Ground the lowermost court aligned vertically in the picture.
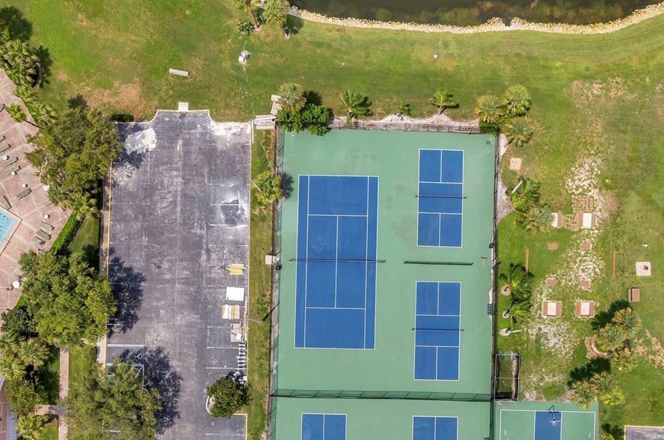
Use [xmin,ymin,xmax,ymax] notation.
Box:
[414,281,461,380]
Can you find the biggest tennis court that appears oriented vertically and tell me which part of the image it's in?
center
